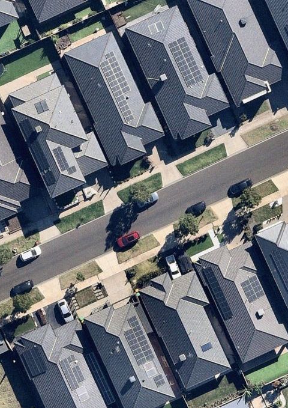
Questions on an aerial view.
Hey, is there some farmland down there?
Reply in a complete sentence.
No, there is no farmland in the image.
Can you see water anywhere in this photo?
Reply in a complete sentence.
No, no water is visible.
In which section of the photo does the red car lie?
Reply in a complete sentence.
The red car is in the center part of the image.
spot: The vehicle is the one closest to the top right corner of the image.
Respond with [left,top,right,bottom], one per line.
[225,177,254,198]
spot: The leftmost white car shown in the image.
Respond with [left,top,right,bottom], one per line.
[17,245,45,264]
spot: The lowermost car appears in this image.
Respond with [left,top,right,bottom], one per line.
[55,296,74,323]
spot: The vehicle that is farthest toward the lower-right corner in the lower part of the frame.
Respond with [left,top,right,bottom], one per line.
[162,249,180,274]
